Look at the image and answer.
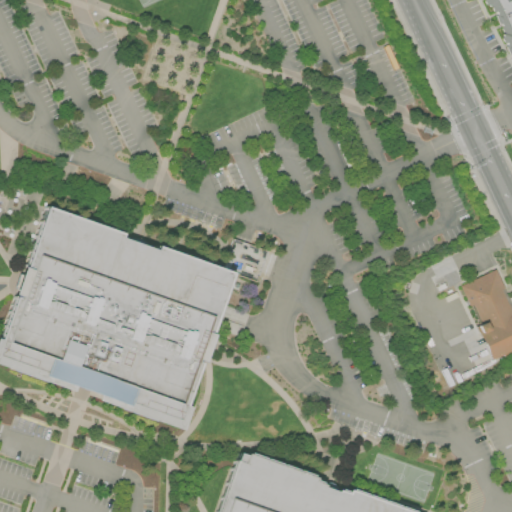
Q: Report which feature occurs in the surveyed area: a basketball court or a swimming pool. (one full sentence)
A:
Looking from above, you can make out a basketball court.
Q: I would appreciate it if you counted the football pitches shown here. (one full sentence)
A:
The picture shows no football pitches.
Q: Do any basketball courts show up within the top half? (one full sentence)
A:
No, no basketball court can be made out within the top half.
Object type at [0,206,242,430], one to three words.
building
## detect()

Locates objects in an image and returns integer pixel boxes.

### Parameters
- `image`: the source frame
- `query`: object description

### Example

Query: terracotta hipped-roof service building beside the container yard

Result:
[461,270,512,358]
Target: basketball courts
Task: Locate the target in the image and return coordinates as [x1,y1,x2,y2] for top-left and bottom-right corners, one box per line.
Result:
[370,454,434,502]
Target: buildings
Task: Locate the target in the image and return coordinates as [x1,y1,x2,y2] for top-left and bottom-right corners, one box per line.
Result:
[216,452,426,512]
[0,206,242,430]
[461,270,512,358]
